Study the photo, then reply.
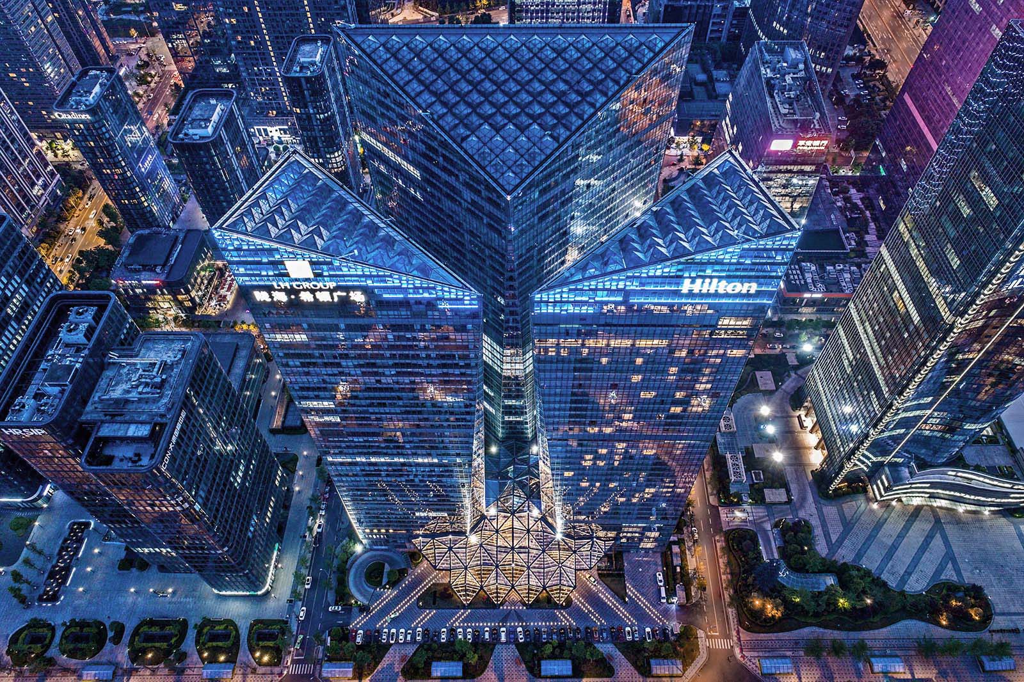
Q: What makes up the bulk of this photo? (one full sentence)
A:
What you mostly see from above here is buildings.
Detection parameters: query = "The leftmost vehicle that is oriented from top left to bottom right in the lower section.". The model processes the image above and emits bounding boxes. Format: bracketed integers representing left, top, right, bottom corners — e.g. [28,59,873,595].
[585,571,600,586]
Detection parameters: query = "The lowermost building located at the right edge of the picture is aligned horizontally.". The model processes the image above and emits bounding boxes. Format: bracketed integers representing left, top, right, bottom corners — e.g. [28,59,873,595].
[873,466,1024,511]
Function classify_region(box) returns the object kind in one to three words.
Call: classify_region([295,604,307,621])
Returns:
vehicle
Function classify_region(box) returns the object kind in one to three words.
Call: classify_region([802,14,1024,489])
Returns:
building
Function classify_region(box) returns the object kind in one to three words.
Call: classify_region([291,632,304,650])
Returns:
vehicle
